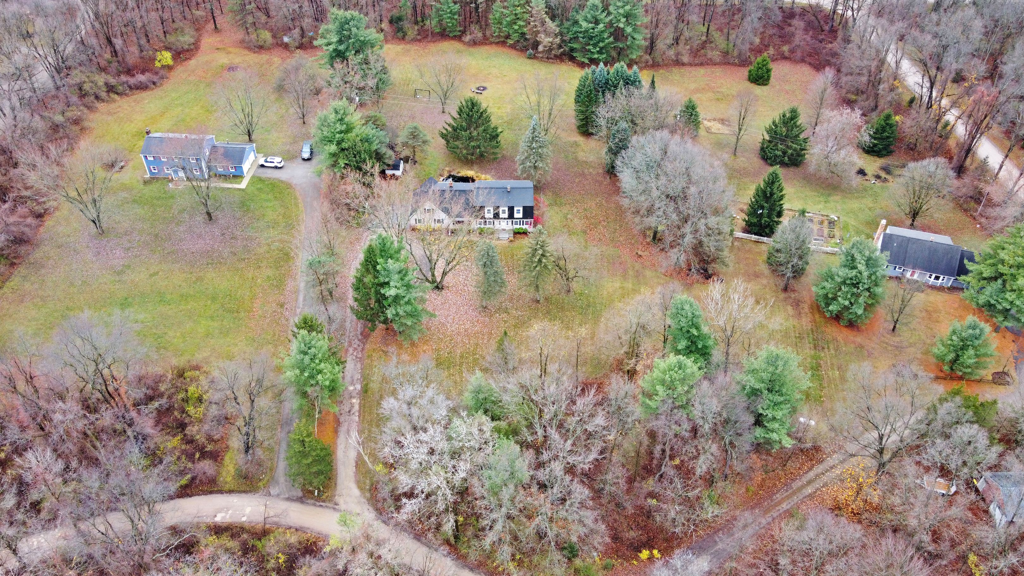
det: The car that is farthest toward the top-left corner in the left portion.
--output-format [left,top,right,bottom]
[257,156,284,169]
